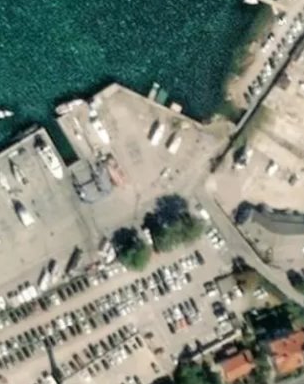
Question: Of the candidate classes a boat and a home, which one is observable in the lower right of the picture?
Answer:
home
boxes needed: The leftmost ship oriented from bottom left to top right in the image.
[10,124,37,144]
